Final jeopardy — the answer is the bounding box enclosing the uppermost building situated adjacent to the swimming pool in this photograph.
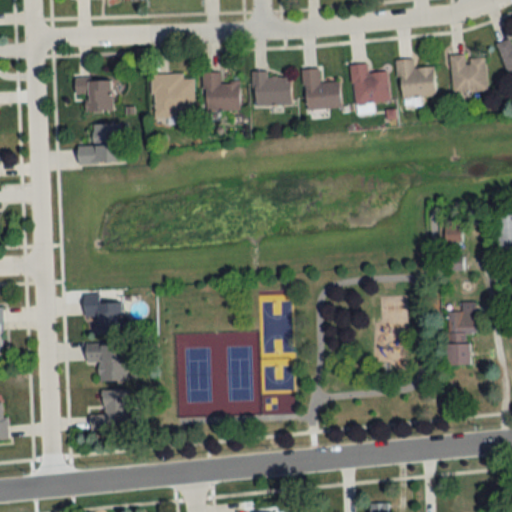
[82,292,122,326]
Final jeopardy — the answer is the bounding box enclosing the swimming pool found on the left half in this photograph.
[129,300,150,320]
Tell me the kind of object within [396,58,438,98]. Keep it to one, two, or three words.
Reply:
house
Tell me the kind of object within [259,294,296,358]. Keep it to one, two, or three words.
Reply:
basketball court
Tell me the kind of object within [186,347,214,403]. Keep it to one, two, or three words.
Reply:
tennis court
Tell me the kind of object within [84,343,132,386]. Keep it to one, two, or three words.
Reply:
house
